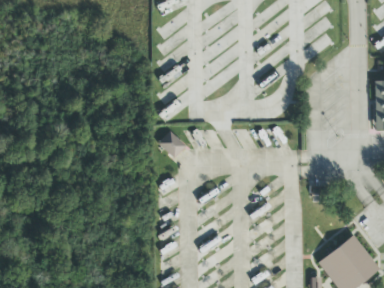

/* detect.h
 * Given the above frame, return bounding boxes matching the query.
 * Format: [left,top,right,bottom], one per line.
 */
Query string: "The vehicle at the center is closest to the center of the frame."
[192,130,207,148]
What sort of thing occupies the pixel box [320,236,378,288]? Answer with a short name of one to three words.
building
